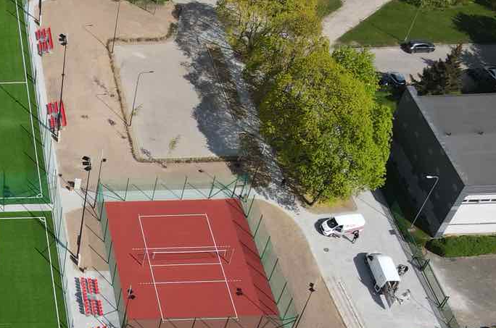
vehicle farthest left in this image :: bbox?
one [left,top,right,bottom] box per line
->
[322,214,369,241]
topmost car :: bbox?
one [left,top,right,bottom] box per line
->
[403,42,435,55]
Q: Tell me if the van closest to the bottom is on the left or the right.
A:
right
